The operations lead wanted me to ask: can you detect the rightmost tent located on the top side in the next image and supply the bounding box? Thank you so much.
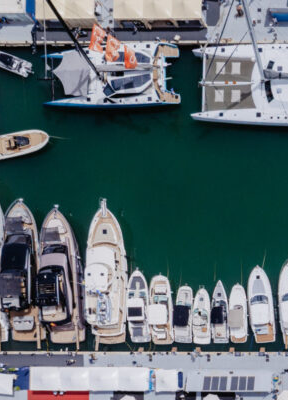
[173,0,208,29]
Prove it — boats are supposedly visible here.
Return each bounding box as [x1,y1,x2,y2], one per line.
[188,263,214,355]
[208,259,231,355]
[0,0,183,109]
[36,188,94,365]
[124,240,155,355]
[0,51,36,79]
[145,249,177,357]
[0,130,66,163]
[190,0,288,129]
[169,265,198,356]
[225,285,253,355]
[246,238,280,354]
[275,262,288,361]
[0,170,52,366]
[82,165,134,364]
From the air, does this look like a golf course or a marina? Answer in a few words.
marina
